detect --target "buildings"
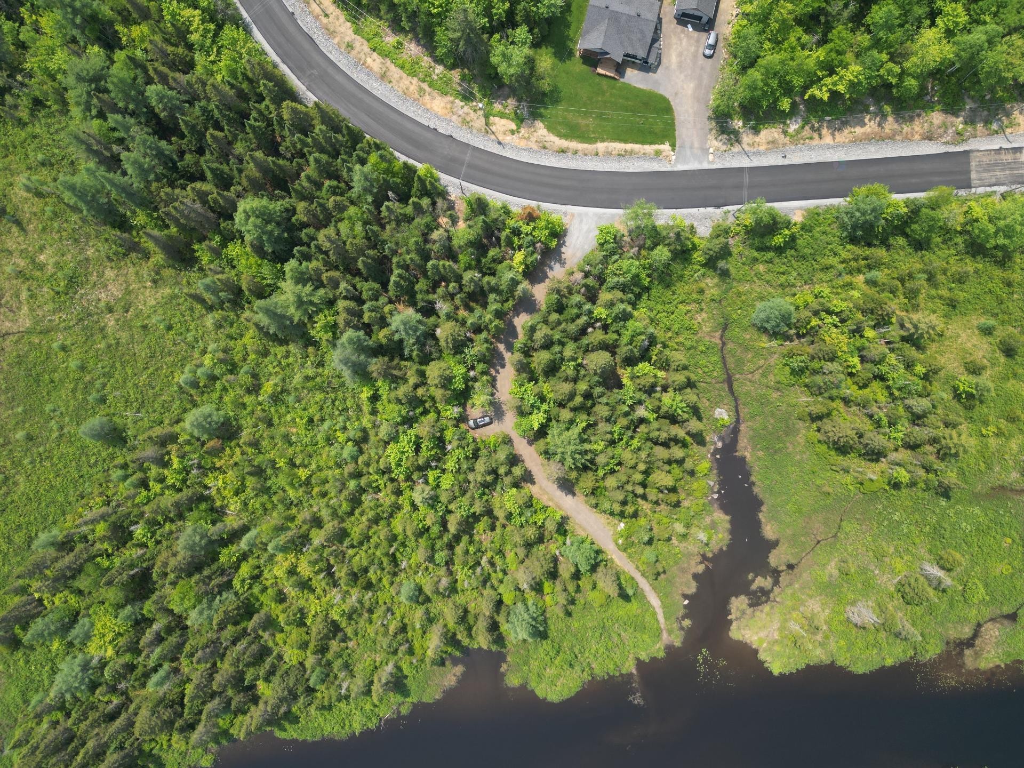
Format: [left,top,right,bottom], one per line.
[577,0,659,81]
[674,0,717,27]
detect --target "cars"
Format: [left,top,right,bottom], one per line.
[468,416,494,429]
[703,30,718,59]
